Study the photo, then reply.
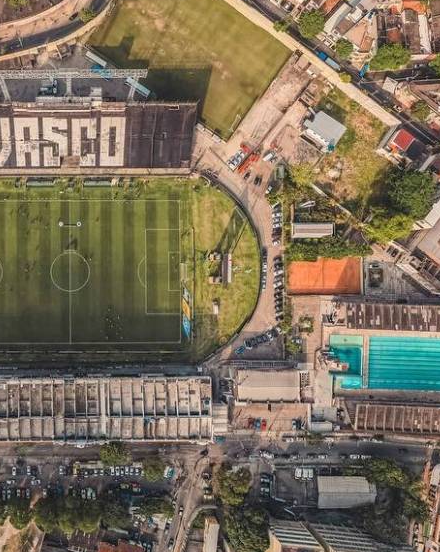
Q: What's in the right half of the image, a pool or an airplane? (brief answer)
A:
pool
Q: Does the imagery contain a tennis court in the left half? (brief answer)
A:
No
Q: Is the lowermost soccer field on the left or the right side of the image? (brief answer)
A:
left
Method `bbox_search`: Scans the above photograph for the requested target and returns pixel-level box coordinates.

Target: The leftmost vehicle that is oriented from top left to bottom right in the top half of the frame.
[85,47,108,67]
